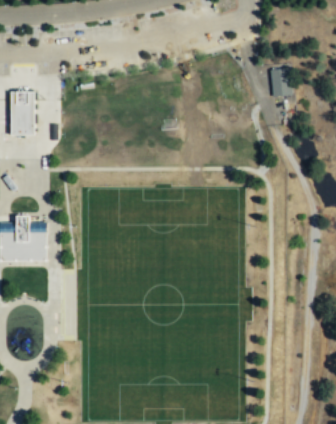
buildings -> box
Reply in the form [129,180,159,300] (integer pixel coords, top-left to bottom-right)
[11,88,36,135]
[272,68,295,96]
[0,215,50,262]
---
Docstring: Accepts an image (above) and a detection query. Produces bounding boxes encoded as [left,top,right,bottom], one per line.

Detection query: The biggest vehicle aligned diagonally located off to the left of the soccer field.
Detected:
[2,173,18,191]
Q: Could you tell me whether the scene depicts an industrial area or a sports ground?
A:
sports ground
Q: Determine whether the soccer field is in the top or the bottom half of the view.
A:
bottom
